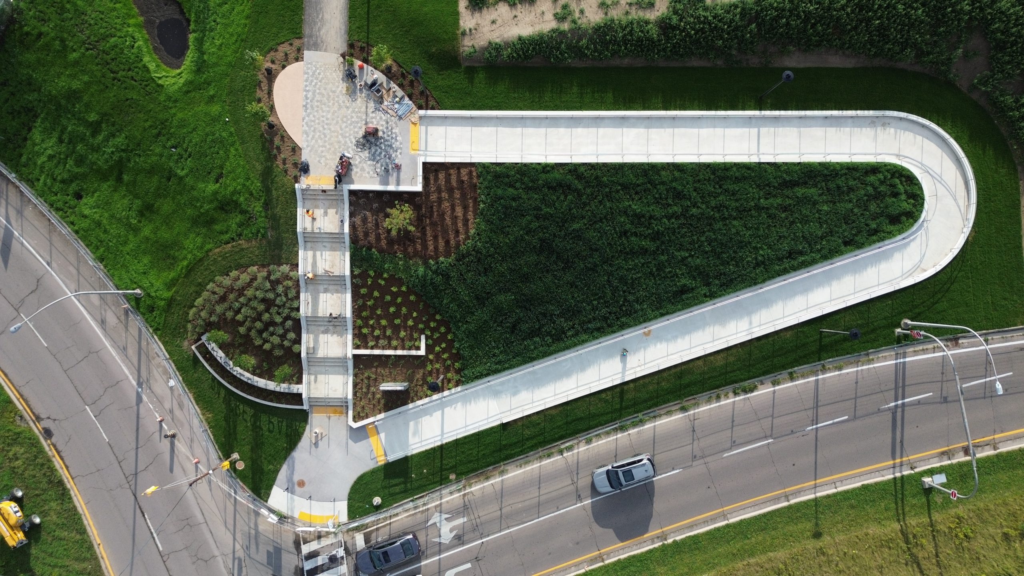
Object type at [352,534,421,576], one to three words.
car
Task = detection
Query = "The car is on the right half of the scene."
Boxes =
[590,452,658,493]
